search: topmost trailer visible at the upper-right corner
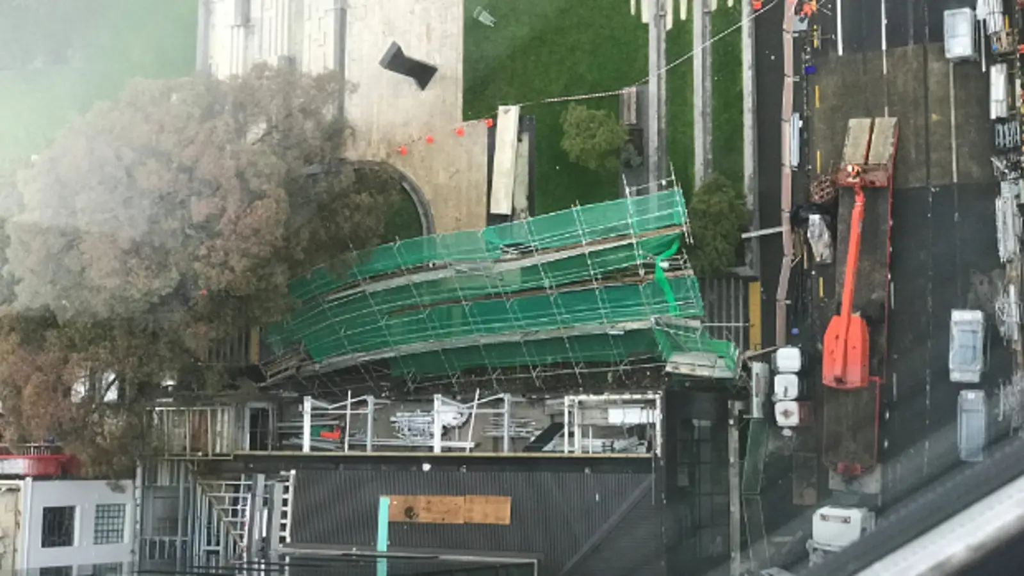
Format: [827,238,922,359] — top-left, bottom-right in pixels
[940,8,982,64]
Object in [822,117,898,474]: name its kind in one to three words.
trailer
